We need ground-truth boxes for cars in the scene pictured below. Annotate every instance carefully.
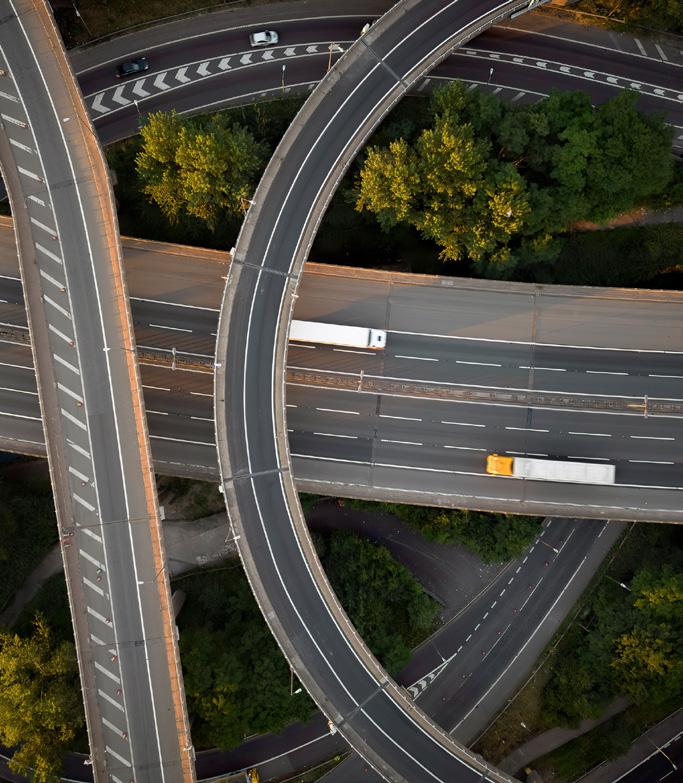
[116,57,149,79]
[249,31,278,49]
